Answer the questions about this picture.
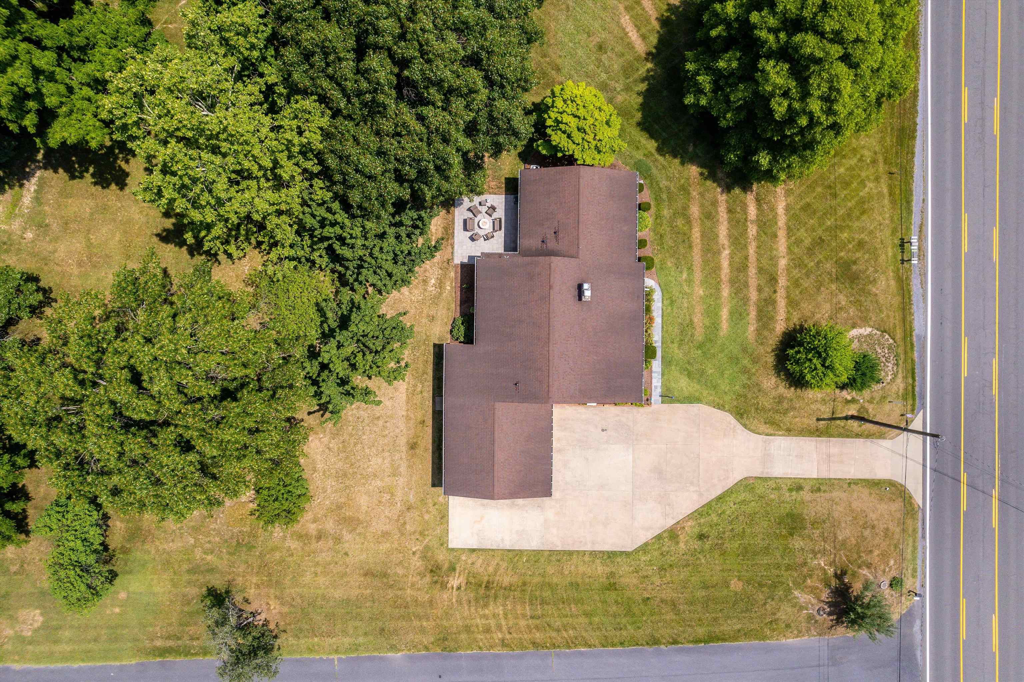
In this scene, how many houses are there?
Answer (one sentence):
The count comes to 1 house.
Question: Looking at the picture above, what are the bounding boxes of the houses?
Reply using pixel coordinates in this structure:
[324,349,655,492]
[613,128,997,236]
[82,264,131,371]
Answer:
[442,164,649,500]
